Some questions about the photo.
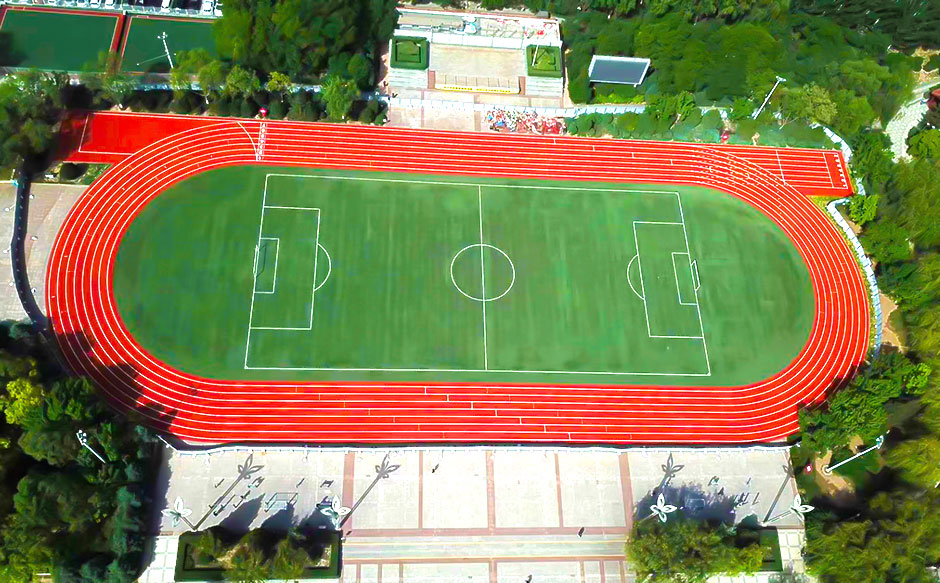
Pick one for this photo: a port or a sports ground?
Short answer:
sports ground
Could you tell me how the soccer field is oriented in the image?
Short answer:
from side to side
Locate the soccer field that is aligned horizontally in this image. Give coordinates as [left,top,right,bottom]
[114,165,815,387]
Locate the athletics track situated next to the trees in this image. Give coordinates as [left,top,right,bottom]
[37,110,869,445]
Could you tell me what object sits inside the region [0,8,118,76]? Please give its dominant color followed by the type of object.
green sports court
